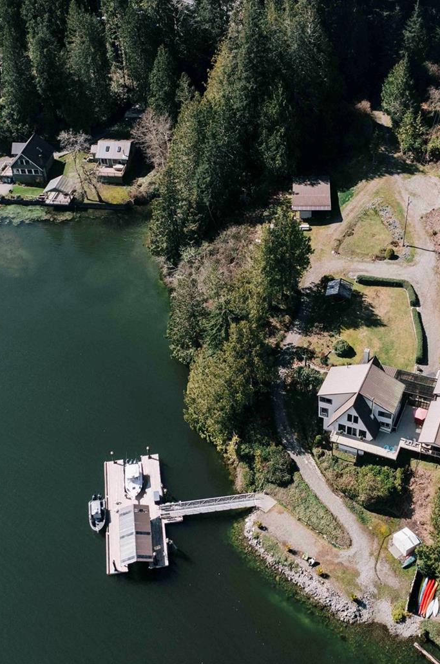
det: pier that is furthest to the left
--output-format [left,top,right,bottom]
[104,454,183,575]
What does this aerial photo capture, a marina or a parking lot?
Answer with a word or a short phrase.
marina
